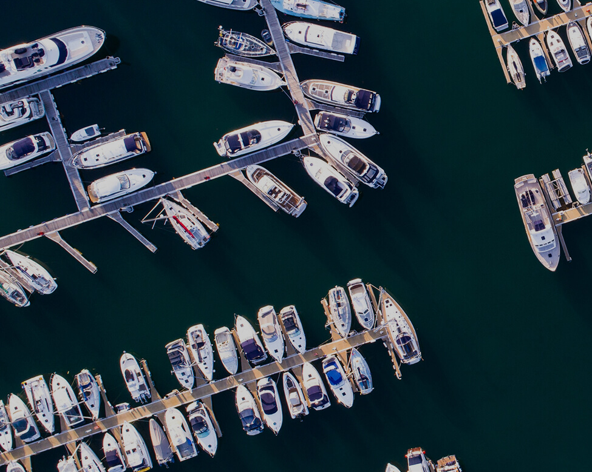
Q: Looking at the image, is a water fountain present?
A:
No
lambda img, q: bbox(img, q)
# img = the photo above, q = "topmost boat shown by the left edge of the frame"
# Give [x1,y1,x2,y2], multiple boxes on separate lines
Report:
[0,27,108,86]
